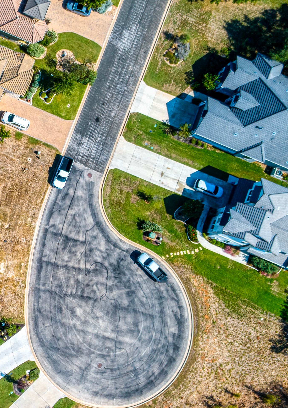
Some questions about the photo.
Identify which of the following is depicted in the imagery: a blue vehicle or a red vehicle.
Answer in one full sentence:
The image shows a blue vehicle.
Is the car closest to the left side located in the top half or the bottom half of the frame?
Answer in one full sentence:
The car closest to the left side is in the top half of the image.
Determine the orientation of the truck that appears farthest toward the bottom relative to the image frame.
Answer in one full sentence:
The truck that appears farthest toward the bottom is laid out at an angle.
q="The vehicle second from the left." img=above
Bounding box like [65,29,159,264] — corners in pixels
[51,154,76,190]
